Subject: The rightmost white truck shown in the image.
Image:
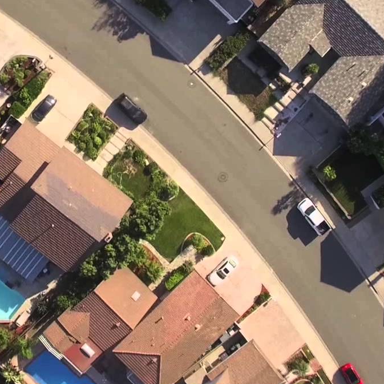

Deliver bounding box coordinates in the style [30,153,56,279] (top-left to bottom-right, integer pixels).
[296,196,336,239]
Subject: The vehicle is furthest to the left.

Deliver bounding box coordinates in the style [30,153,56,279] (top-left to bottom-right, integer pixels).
[29,90,59,126]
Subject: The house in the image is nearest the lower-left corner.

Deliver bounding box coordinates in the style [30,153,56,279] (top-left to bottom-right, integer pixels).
[39,270,157,374]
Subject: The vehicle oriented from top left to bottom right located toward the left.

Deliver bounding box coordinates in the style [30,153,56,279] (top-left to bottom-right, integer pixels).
[114,91,150,126]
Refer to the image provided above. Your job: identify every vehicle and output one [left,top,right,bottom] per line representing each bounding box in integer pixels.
[114,91,150,126]
[29,90,59,126]
[206,254,241,288]
[338,360,362,384]
[296,196,336,239]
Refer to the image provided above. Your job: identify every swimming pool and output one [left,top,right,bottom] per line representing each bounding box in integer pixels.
[0,268,28,324]
[22,343,93,384]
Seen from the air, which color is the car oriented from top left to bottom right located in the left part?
black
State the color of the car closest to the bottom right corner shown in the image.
red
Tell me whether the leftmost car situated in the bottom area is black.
No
